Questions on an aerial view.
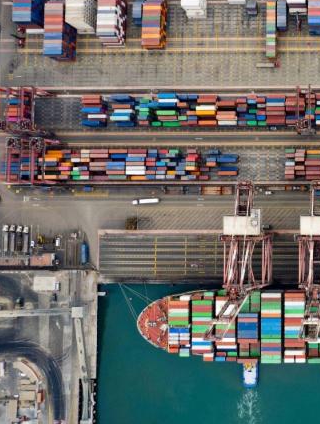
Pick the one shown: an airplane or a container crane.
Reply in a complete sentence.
The one in the frame is a container crane.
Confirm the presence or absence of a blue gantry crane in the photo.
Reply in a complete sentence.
No, there isn't any blue gantry crane down there.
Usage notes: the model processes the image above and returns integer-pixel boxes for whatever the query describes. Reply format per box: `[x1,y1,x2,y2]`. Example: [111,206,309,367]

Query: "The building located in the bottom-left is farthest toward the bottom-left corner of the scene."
[7,398,20,424]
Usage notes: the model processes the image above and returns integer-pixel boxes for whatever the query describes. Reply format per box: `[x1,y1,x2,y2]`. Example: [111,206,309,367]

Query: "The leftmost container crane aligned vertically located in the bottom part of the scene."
[198,177,279,340]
